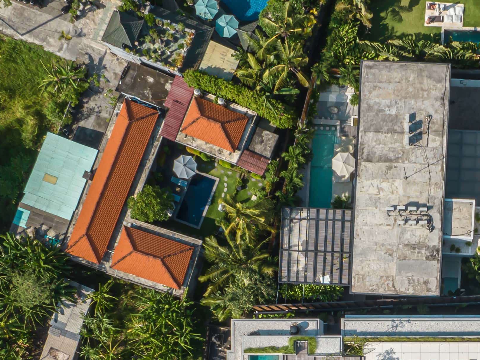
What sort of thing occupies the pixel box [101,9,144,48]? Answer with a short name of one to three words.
building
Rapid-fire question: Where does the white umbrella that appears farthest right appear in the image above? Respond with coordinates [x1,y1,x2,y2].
[333,153,355,176]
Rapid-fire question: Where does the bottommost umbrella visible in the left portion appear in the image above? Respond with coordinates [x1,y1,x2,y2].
[174,155,197,178]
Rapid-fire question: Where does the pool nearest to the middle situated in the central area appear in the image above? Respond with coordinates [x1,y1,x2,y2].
[169,172,222,232]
